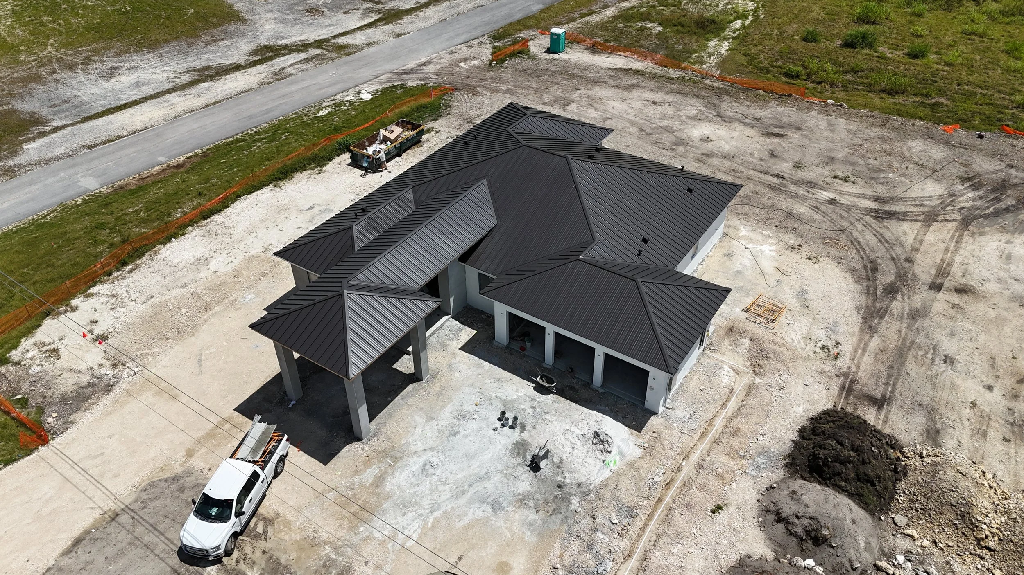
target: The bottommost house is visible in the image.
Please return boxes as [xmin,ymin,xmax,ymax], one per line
[248,102,743,437]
